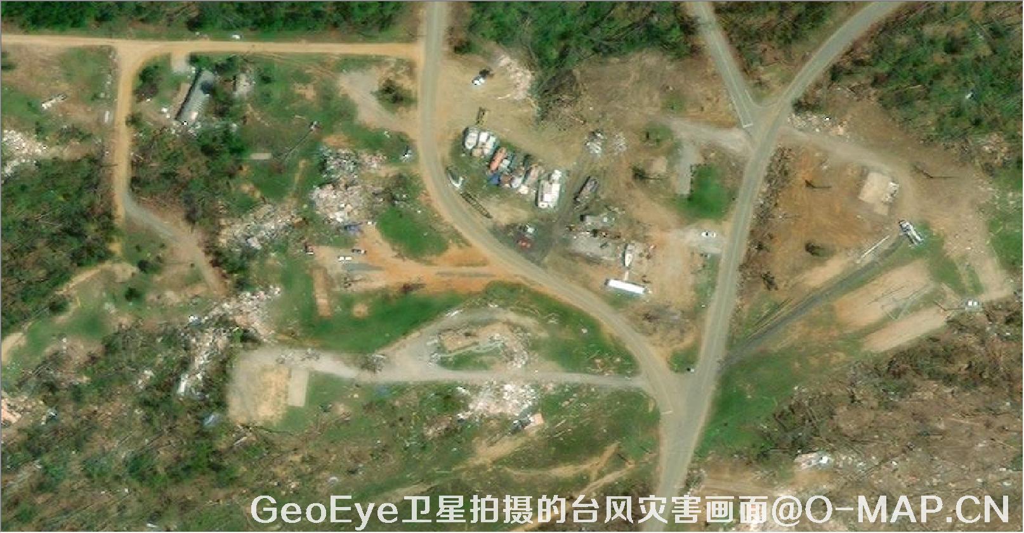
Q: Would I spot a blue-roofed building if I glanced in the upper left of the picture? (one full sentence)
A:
No, no blue-roofed building appears in the upper left of the picture.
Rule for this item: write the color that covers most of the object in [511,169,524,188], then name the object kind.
white boat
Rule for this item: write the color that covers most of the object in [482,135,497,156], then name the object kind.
white camper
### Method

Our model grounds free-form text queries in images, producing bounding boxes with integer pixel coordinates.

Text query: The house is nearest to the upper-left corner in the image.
[179,68,212,125]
